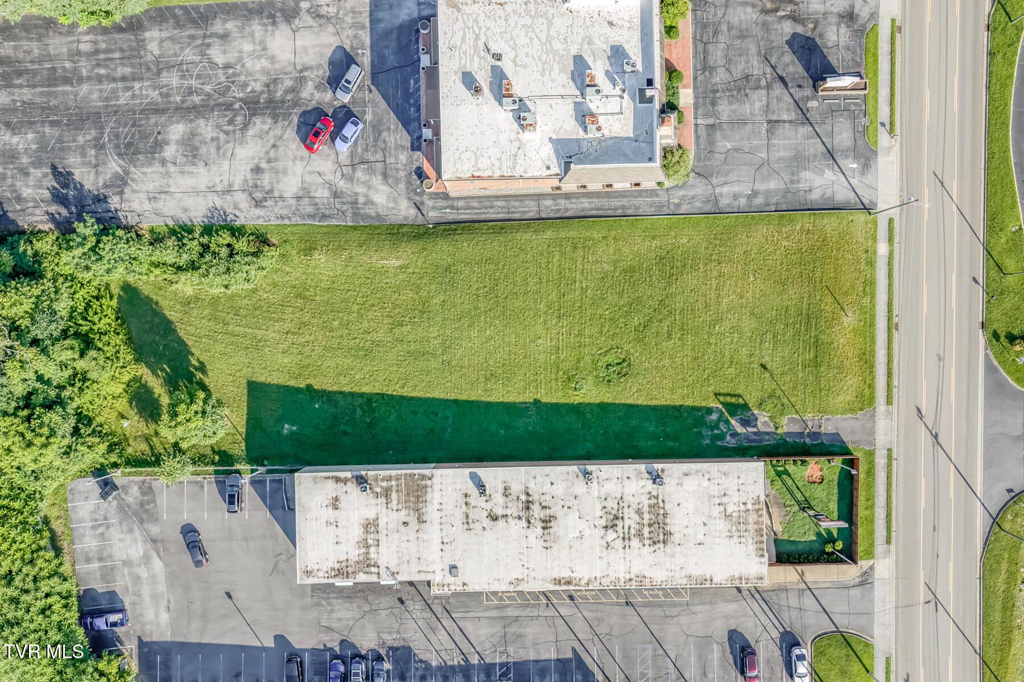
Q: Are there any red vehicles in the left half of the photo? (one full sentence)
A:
Yes, you'll find a red vehicle in the left half of the photo.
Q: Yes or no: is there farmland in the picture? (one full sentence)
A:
No, the picture contains no farmland.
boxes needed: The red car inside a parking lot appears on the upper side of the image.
[305,116,336,155]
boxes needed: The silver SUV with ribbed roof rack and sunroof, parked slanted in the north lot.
[336,63,366,104]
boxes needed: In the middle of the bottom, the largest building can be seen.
[296,457,769,595]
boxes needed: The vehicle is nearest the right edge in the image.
[788,645,808,682]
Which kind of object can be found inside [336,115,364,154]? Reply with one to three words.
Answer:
car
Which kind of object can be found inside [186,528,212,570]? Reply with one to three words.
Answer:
car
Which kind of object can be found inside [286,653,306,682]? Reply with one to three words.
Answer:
vehicle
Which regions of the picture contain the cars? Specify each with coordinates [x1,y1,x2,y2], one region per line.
[186,528,212,570]
[348,655,367,682]
[788,645,808,682]
[369,657,388,682]
[740,646,761,682]
[336,115,364,154]
[336,63,366,104]
[225,474,244,513]
[305,116,336,155]
[328,657,346,682]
